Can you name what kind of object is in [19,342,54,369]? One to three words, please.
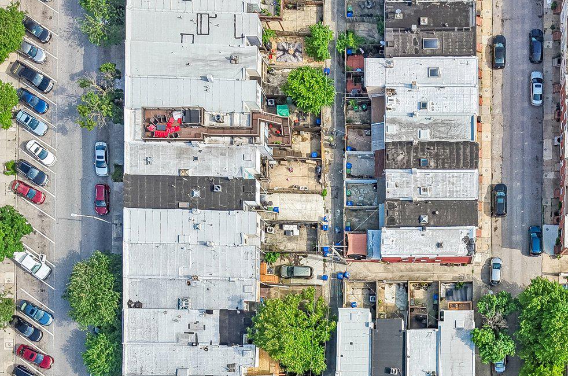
car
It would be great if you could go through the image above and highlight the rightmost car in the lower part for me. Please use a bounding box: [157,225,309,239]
[526,226,544,257]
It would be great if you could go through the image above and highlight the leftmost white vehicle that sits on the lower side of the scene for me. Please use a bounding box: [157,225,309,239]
[10,248,53,281]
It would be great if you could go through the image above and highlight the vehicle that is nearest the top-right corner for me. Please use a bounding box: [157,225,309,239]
[528,31,545,62]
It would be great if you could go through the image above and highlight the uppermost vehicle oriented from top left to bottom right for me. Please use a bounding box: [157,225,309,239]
[24,15,56,44]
